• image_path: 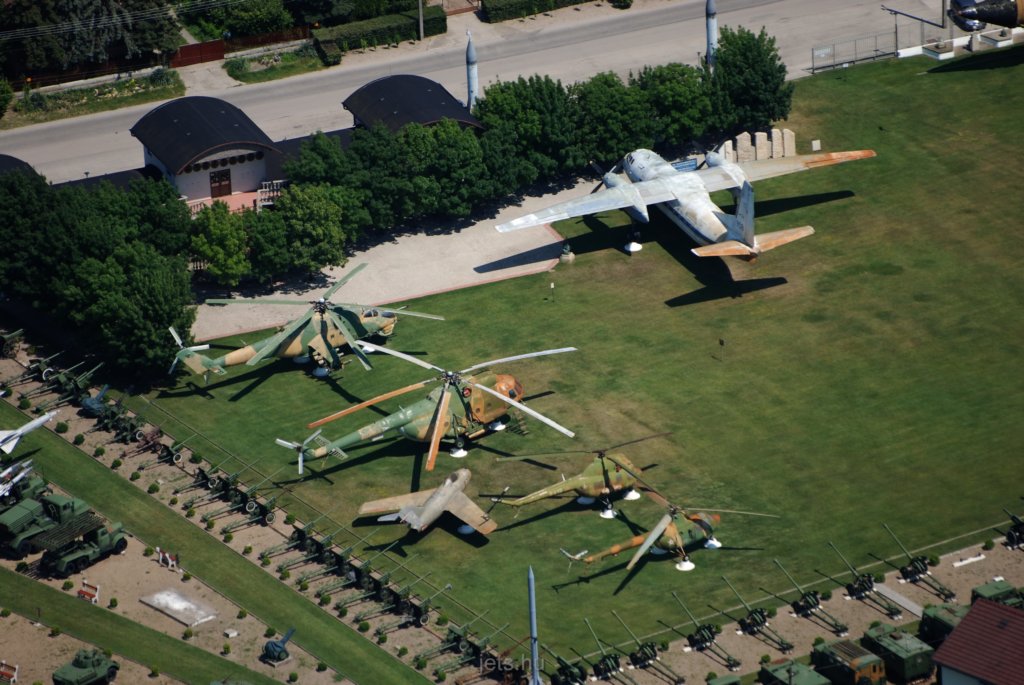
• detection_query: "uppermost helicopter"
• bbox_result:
[161,264,442,382]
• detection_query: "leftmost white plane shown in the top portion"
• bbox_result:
[494,135,878,260]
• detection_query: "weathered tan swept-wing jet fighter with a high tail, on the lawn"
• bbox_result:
[357,465,497,535]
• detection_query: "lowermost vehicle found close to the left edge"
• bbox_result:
[47,647,119,685]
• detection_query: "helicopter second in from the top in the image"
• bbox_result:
[280,342,578,475]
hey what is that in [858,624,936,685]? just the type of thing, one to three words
van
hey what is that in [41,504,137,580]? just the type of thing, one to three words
truck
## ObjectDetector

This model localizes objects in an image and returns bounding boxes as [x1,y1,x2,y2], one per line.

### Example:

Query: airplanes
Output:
[964,0,1024,27]
[494,135,878,260]
[357,465,497,535]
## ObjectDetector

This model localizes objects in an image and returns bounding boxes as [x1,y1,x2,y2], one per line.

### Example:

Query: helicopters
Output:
[485,434,669,520]
[161,264,442,382]
[567,472,779,575]
[280,342,578,475]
